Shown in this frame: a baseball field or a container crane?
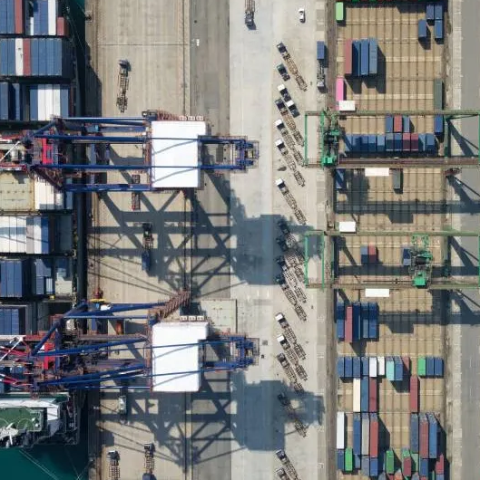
container crane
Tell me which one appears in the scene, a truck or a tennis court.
truck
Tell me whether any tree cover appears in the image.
No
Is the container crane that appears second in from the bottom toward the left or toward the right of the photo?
right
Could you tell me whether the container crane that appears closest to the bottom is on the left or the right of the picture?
left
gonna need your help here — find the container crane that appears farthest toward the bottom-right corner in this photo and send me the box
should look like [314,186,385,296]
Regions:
[302,219,480,296]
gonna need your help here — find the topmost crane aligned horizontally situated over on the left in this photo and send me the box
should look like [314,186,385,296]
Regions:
[0,99,269,204]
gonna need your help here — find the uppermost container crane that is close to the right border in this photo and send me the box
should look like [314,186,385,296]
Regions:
[302,99,480,176]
